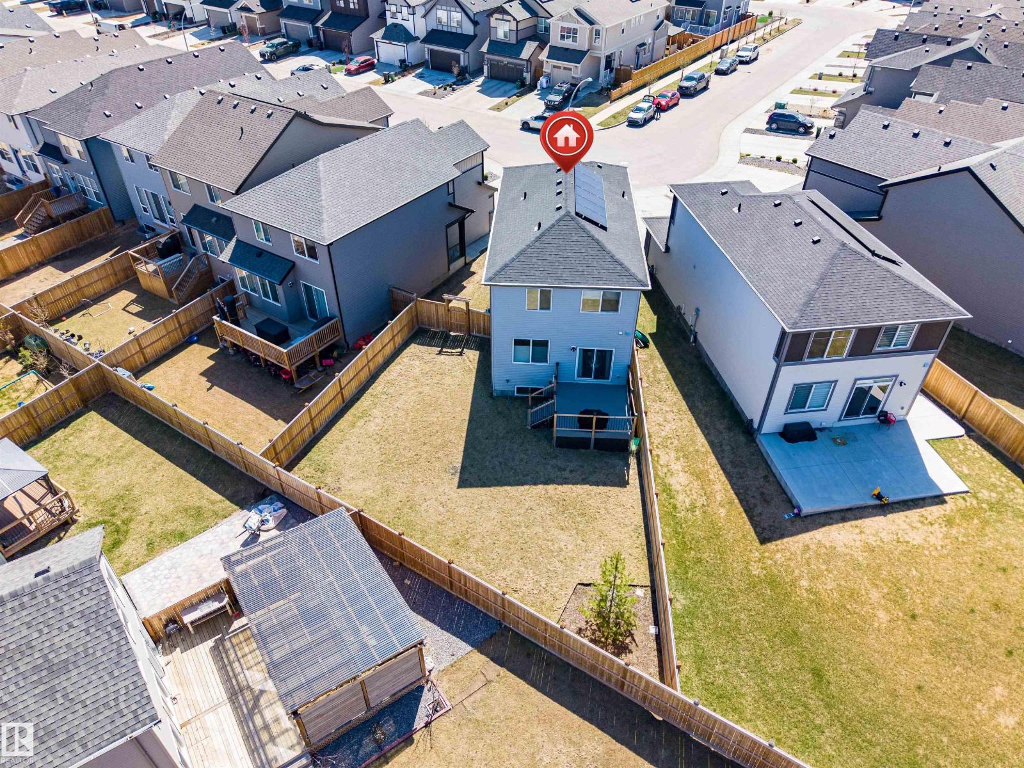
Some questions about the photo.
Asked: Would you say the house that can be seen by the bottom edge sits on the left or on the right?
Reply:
left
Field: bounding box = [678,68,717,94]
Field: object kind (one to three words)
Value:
truck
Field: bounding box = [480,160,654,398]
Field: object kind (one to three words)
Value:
house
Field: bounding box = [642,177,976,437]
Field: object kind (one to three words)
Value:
house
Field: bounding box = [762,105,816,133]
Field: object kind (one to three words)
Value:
car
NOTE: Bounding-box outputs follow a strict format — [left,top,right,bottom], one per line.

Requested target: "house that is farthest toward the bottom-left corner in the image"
[0,525,188,768]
